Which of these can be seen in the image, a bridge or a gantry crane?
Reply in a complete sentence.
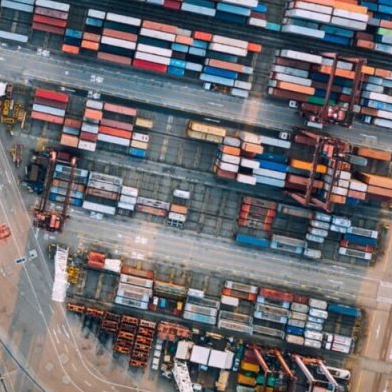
Of the two, only a gantry crane appears.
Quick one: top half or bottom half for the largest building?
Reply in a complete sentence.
The bottom half of the photo is where the largest building is.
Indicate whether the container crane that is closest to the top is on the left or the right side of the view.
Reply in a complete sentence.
The container crane that is closest to the top sits on the right side.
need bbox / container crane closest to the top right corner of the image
[300,53,361,131]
